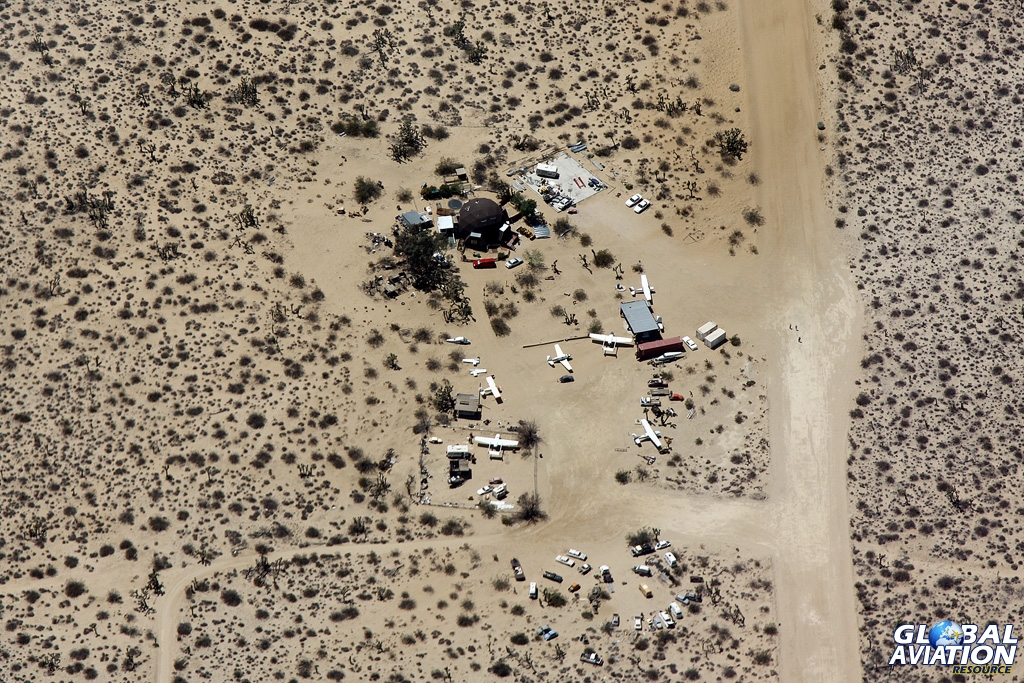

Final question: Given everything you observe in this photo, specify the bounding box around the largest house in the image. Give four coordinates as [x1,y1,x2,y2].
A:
[457,197,510,247]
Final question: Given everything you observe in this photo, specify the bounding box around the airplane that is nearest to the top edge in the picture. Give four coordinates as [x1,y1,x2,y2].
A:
[626,274,654,302]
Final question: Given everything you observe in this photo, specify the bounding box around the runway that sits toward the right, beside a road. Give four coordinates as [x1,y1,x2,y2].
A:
[737,0,866,683]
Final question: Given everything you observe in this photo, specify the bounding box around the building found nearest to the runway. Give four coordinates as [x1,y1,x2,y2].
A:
[621,300,659,340]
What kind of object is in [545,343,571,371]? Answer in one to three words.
airplane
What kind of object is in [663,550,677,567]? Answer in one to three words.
vehicle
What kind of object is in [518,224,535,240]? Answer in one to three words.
work vehicle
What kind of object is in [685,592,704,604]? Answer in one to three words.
vehicle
